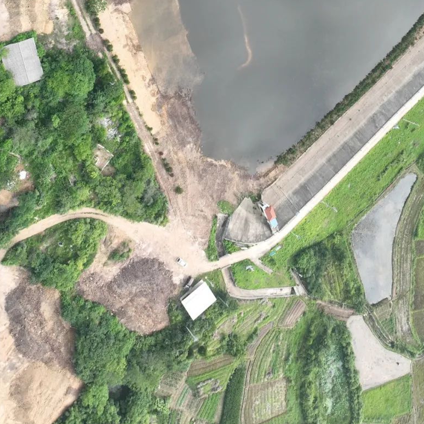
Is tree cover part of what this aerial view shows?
Yes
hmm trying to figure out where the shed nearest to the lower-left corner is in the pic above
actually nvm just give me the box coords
[179,276,216,320]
